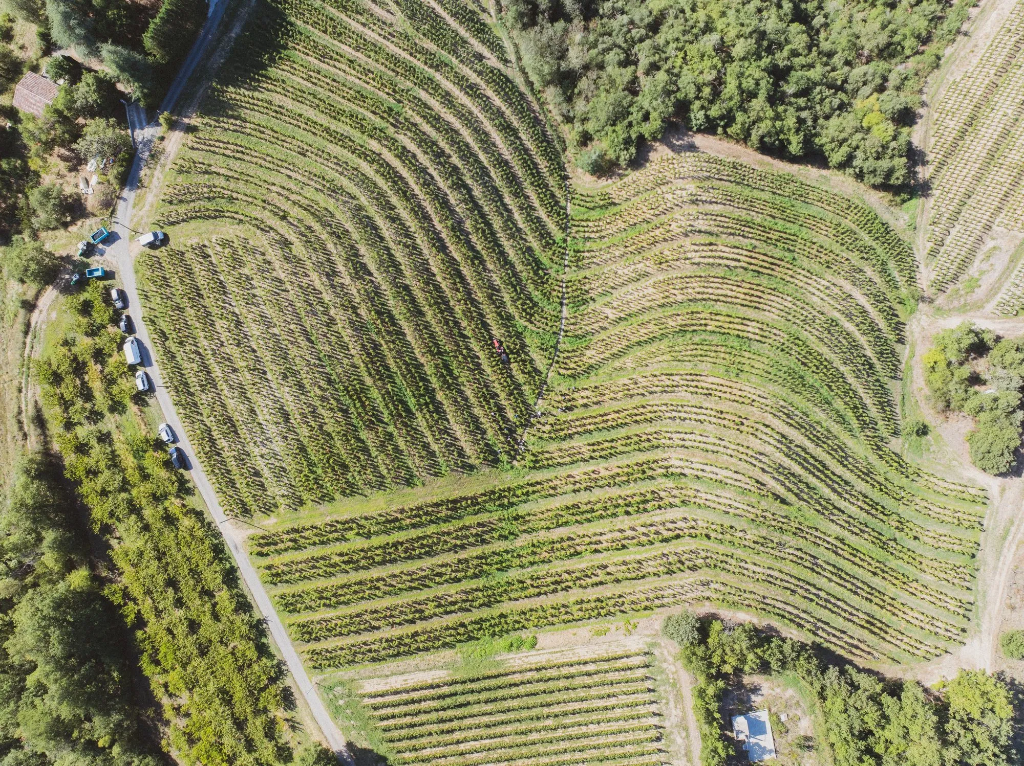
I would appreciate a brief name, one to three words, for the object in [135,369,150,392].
car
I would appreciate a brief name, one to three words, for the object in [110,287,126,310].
car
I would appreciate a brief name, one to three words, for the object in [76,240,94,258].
work vehicle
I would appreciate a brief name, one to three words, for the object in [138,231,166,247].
vehicle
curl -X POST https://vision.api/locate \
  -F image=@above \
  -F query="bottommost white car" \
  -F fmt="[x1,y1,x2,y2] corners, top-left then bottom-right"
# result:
[159,423,174,444]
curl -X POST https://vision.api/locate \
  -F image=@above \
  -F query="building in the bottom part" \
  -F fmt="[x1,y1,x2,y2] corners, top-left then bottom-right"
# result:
[729,711,748,739]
